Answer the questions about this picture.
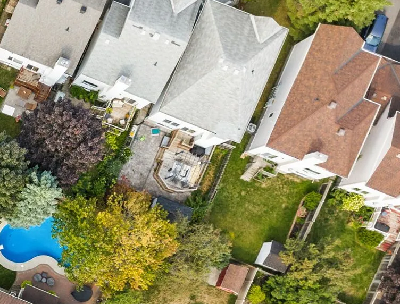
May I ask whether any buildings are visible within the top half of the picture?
Yes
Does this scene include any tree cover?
Yes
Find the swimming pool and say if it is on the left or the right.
left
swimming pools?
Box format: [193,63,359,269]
[0,216,74,265]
